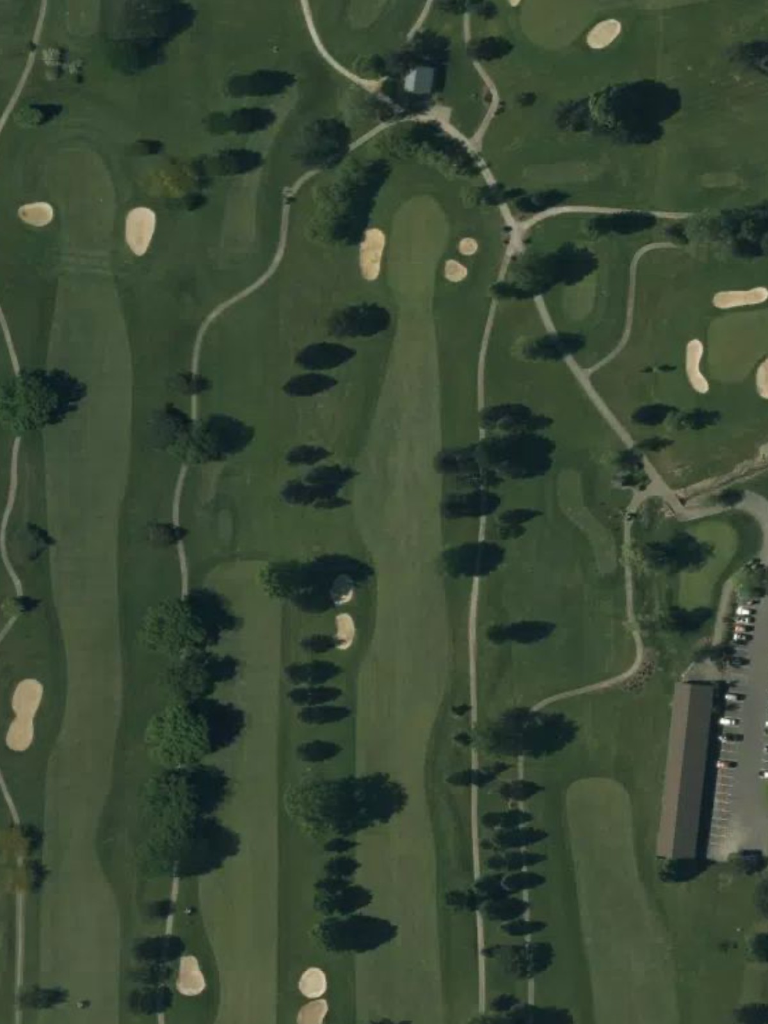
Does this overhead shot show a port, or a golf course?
golf course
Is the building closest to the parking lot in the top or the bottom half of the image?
bottom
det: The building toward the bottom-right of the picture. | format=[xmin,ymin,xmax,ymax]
[657,682,717,858]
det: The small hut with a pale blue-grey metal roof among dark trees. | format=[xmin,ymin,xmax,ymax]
[404,68,437,93]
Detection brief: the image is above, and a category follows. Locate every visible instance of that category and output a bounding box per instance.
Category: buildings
[404,68,437,93]
[657,682,717,858]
